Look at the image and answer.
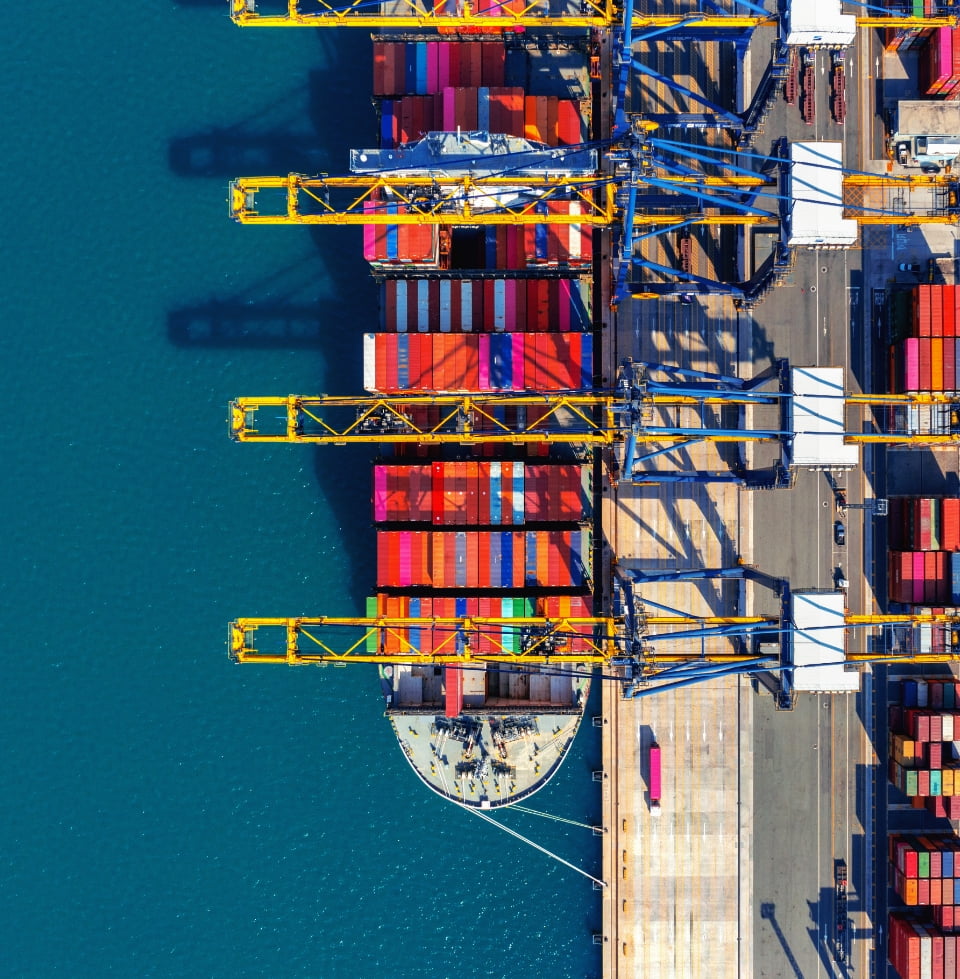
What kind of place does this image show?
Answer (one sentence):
This looks like a port.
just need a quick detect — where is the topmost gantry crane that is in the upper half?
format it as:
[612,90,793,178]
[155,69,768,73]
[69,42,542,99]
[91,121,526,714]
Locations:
[224,0,955,154]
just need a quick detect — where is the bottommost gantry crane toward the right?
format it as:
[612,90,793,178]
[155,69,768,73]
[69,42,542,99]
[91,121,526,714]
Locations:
[224,551,955,713]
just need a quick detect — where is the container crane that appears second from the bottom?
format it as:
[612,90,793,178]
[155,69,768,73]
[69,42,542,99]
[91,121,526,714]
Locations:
[224,352,955,498]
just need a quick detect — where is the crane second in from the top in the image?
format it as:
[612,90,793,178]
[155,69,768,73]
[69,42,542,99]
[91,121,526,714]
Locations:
[224,131,955,317]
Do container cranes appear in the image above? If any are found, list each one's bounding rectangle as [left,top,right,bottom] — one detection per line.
[224,551,955,713]
[224,352,955,498]
[224,0,955,154]
[224,131,955,317]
